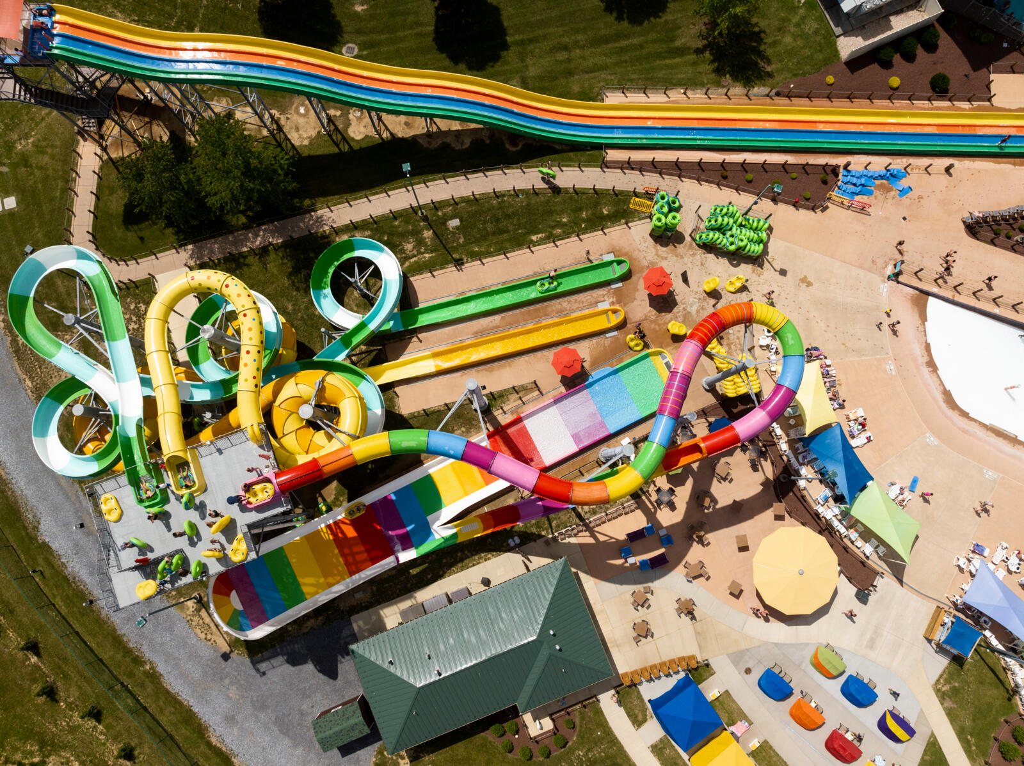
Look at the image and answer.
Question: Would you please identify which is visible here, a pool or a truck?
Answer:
pool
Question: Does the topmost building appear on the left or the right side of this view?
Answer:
right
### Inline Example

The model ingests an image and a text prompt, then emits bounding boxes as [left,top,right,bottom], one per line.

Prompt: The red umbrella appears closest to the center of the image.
[553,348,582,377]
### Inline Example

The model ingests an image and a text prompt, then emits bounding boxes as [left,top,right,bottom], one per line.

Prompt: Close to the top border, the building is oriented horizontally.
[814,0,949,61]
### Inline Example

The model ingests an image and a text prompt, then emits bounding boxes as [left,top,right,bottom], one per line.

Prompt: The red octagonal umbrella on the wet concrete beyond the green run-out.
[641,268,671,297]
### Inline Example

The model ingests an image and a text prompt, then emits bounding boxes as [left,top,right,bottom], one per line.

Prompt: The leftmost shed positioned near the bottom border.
[311,694,375,753]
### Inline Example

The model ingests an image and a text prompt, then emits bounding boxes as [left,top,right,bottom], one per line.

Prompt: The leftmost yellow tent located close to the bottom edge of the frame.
[680,726,748,766]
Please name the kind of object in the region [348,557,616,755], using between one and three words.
building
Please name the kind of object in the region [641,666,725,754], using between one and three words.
tent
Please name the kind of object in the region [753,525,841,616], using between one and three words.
umbrella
